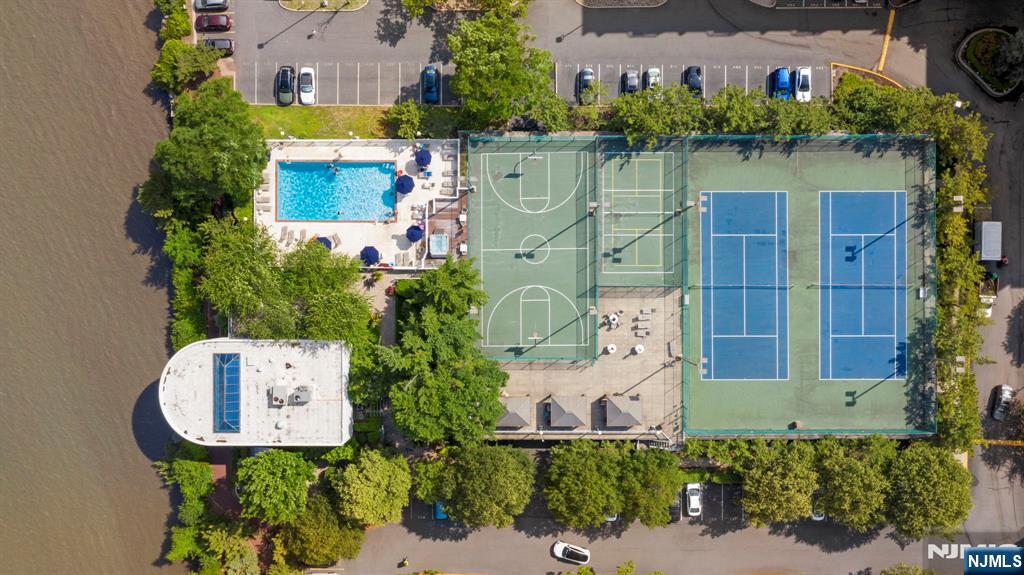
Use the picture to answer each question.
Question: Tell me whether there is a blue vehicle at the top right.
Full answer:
Yes, at the top right there is a blue vehicle.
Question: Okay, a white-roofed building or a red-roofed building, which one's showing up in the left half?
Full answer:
What appears in the left half is a white-roofed building.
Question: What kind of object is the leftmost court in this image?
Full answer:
Specifically, the leftmost court is a basketball court.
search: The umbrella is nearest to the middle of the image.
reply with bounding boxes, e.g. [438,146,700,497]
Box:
[407,225,424,242]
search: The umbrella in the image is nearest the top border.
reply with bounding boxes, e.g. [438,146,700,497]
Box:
[415,149,432,166]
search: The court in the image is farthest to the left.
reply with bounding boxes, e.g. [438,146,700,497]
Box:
[468,141,594,358]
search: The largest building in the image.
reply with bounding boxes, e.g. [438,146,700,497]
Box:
[158,336,359,461]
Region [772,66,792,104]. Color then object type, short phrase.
blue car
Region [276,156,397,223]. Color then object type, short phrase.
blue swimming pool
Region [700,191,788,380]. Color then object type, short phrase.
blue tennis court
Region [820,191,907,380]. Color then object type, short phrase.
blue tennis court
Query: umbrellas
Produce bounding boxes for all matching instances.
[360,246,379,265]
[395,175,415,194]
[415,149,432,166]
[407,225,424,242]
[315,235,333,253]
